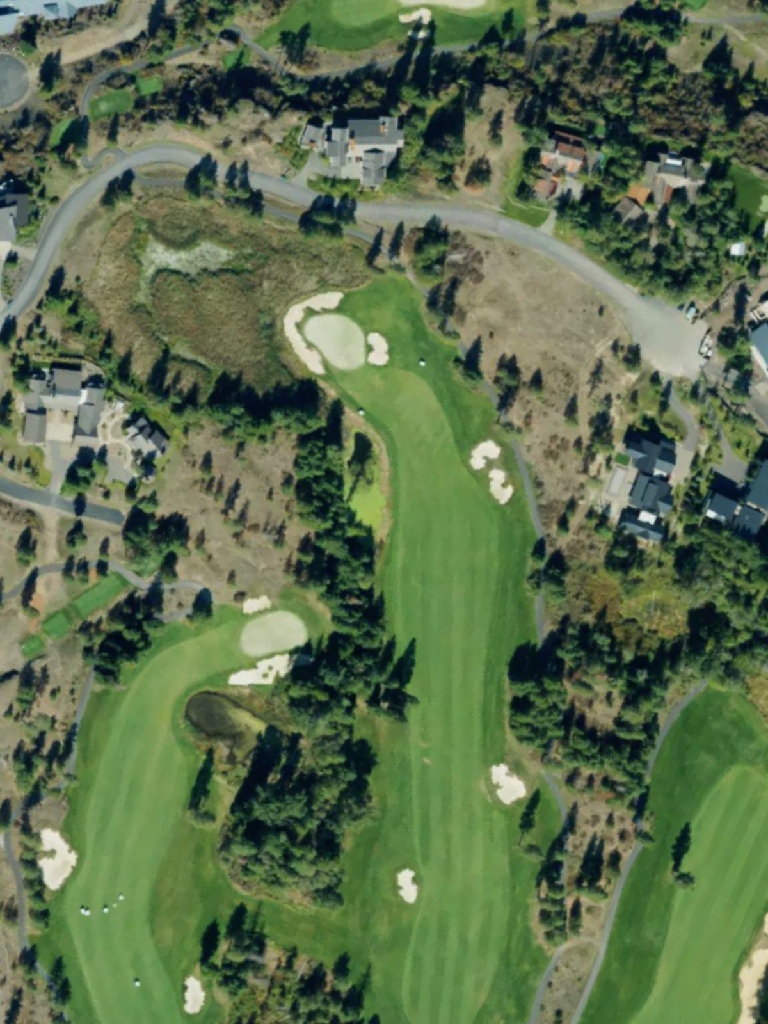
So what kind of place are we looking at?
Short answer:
golf course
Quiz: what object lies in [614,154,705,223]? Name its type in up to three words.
house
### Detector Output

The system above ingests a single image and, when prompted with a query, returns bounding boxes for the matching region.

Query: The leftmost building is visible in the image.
[0,191,29,241]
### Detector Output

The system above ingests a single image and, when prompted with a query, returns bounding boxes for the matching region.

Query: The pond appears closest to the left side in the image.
[184,691,268,756]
